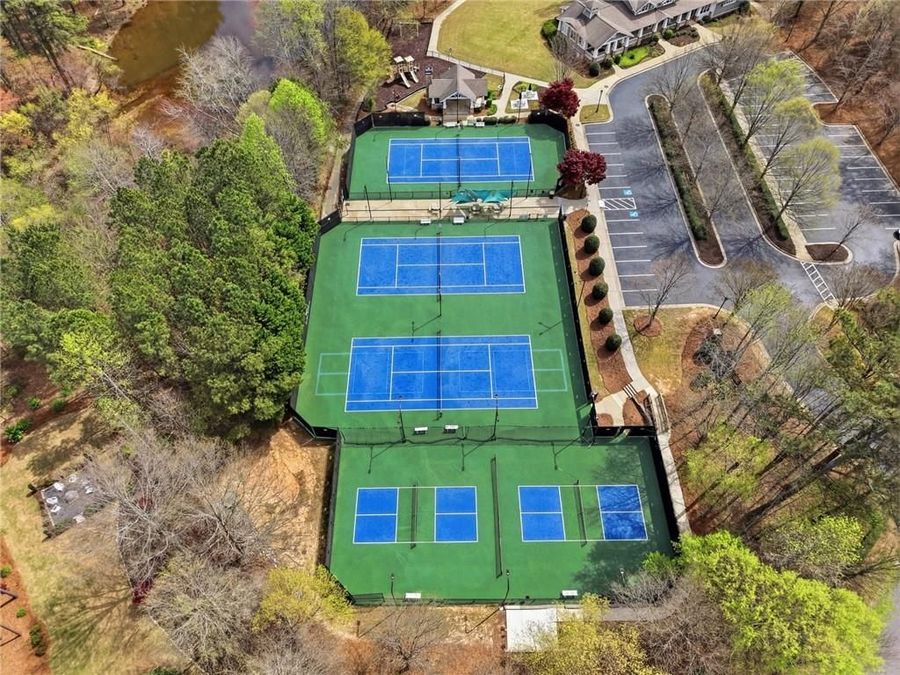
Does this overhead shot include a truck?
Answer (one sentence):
No, the picture doesn't show any truck.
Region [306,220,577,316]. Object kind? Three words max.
tennis court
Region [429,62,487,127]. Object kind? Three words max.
building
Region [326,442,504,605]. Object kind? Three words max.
sports court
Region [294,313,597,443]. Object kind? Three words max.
tennis court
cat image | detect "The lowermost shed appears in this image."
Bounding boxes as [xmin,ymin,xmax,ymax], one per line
[506,605,560,654]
